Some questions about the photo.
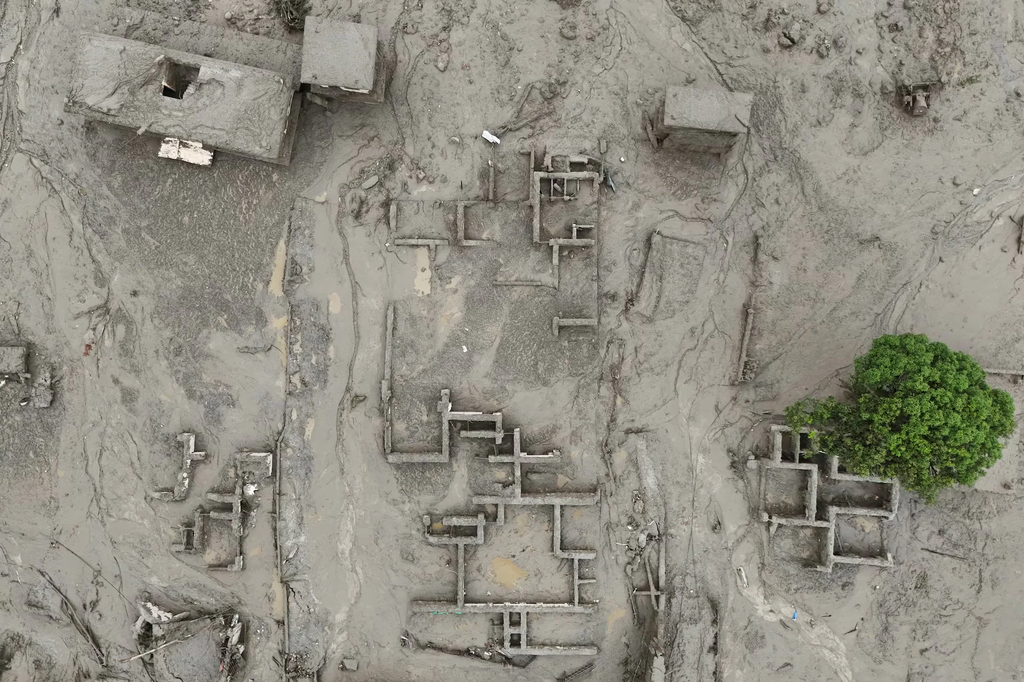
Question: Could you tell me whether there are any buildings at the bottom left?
Yes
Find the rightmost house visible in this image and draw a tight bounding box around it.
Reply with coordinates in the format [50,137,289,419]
[755,423,899,572]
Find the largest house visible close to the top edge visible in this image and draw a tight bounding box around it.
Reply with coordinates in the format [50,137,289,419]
[60,33,310,166]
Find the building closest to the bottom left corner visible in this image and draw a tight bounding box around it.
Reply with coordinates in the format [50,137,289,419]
[127,601,248,682]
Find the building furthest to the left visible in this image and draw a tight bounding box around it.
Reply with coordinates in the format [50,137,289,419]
[0,346,38,386]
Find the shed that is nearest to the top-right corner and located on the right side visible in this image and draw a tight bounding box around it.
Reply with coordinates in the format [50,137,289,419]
[651,85,754,157]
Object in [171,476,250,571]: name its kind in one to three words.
house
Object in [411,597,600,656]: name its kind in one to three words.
house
